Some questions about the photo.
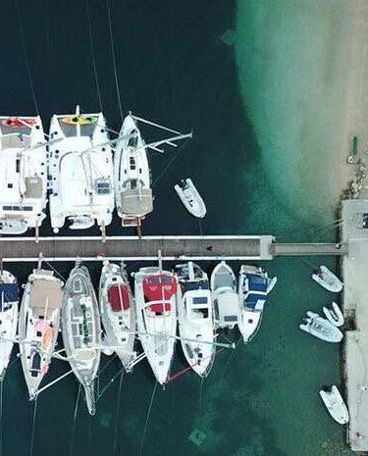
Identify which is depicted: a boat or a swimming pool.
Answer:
boat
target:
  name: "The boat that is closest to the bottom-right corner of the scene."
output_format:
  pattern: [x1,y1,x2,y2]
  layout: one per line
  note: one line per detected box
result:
[316,385,344,424]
